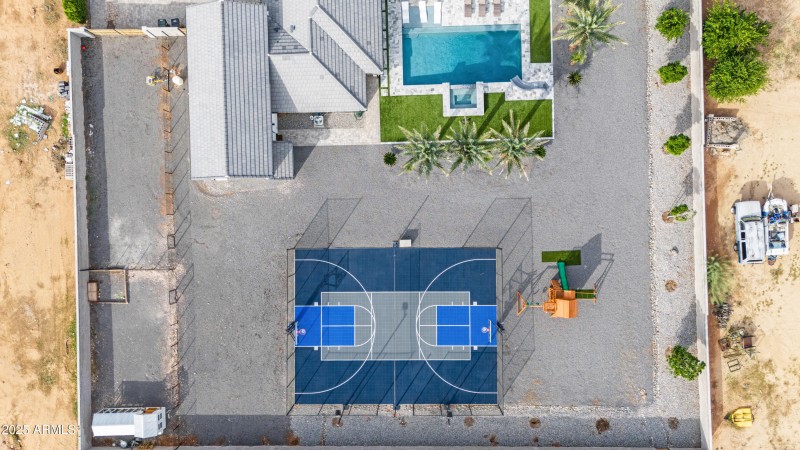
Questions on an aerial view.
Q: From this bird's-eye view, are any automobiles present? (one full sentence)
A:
Yes, the picture does show an automobile.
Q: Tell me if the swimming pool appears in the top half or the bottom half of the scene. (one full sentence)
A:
It is in the top half that the swimming pool appears.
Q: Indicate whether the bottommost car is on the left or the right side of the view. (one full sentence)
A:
It is on the right.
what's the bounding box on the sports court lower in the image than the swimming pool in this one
[288,247,504,406]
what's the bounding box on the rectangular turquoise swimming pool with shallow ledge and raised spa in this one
[402,6,521,116]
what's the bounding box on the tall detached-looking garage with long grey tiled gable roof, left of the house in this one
[185,0,296,180]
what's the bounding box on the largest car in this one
[733,201,769,264]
